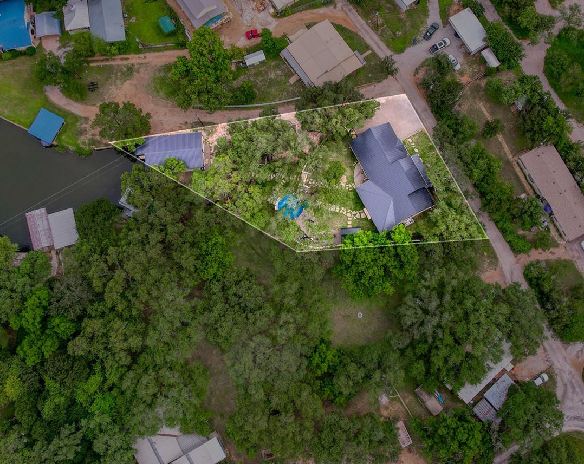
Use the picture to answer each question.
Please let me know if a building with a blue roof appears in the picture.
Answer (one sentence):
Yes, this view includes a building with a blue roof.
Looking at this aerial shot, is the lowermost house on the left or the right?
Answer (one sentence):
It is on the left.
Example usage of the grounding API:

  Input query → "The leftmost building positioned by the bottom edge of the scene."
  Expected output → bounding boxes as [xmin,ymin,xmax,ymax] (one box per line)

[131,424,226,464]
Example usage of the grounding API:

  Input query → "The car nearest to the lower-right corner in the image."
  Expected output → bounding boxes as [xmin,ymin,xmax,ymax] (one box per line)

[529,370,551,389]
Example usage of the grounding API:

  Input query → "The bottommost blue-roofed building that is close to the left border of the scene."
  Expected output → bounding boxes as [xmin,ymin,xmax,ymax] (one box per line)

[28,108,66,145]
